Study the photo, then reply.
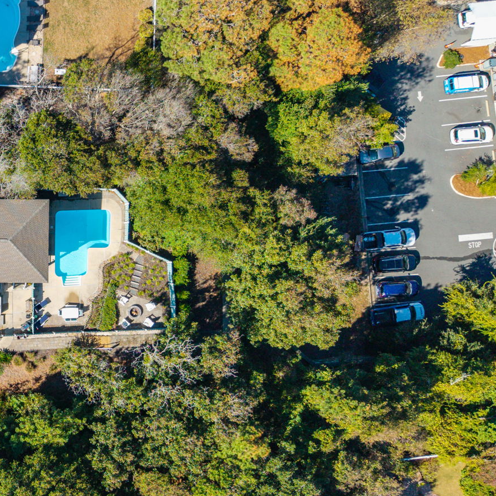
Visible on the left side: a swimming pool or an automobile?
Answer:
swimming pool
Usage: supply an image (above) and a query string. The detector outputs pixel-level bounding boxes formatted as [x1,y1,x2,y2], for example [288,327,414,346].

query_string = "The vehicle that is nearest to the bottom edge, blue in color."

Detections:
[371,304,429,326]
